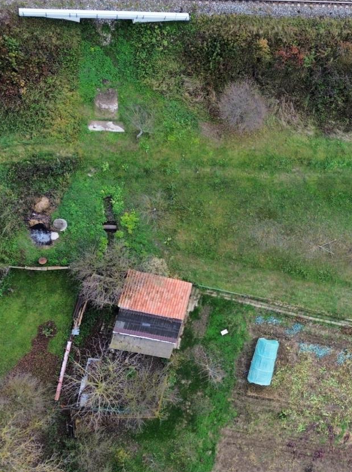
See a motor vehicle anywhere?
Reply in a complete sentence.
No, I can't see a single motor vehicle in this photo.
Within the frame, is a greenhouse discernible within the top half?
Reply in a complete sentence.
No, within the top half there is no greenhouse.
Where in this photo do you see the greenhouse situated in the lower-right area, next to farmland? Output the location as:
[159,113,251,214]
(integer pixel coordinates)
[242,337,277,388]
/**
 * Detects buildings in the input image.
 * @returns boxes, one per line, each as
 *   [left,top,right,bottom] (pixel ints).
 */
[109,270,205,359]
[242,337,277,388]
